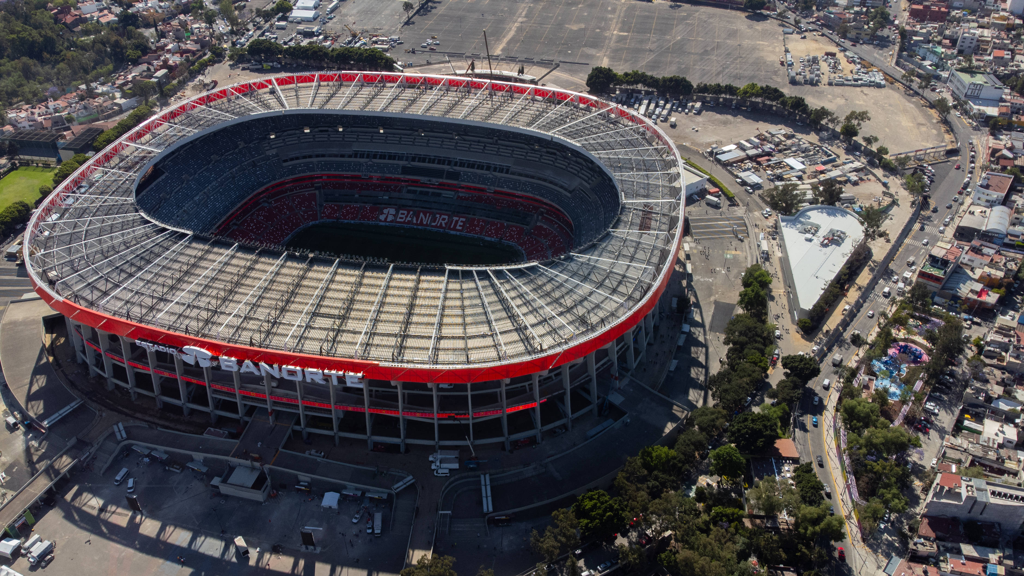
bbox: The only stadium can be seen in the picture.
[19,69,685,454]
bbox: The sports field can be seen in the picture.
[277,222,533,270]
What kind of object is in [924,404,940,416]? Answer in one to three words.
vehicle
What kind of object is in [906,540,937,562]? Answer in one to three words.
house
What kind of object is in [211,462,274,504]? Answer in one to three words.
building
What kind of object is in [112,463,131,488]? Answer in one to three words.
vehicle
